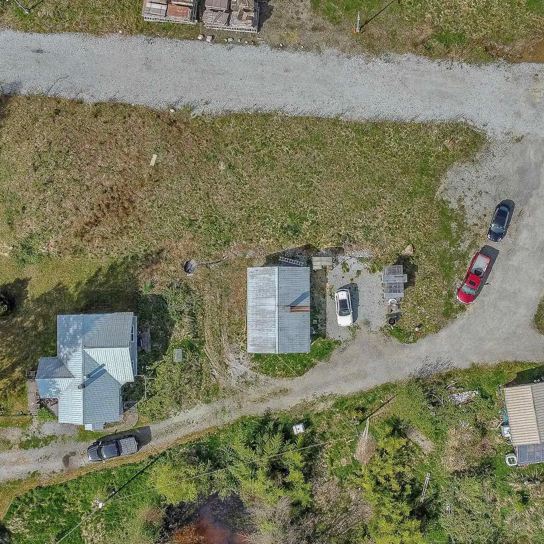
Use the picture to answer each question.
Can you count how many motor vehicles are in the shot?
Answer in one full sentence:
The number of motor vehicles here is 4.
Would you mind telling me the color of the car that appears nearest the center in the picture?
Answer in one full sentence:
The color of the car that appears nearest the center is white.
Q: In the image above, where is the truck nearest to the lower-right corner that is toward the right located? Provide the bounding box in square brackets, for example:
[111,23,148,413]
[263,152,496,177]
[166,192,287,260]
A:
[457,250,491,303]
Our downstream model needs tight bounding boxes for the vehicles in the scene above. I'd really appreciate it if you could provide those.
[457,250,491,303]
[334,288,355,327]
[486,202,511,243]
[88,433,140,461]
